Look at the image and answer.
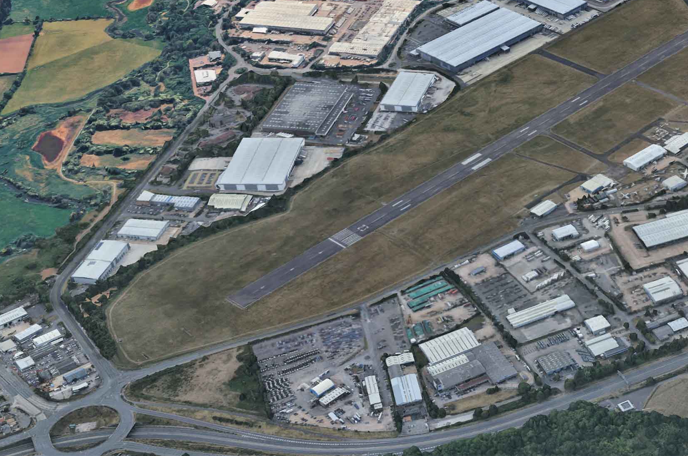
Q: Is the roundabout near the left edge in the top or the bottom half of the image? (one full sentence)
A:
It is in the bottom half that the roundabout near the left edge appears.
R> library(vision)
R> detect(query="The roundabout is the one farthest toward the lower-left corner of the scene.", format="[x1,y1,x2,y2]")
[32,394,134,456]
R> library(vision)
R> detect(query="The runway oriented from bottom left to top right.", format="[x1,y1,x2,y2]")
[228,31,688,308]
